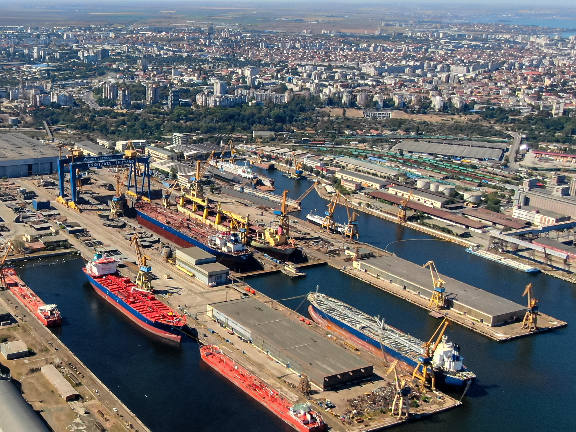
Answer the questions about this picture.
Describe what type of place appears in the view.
port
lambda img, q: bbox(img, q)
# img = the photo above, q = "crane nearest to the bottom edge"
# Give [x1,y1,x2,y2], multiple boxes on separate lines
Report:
[377,356,421,425]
